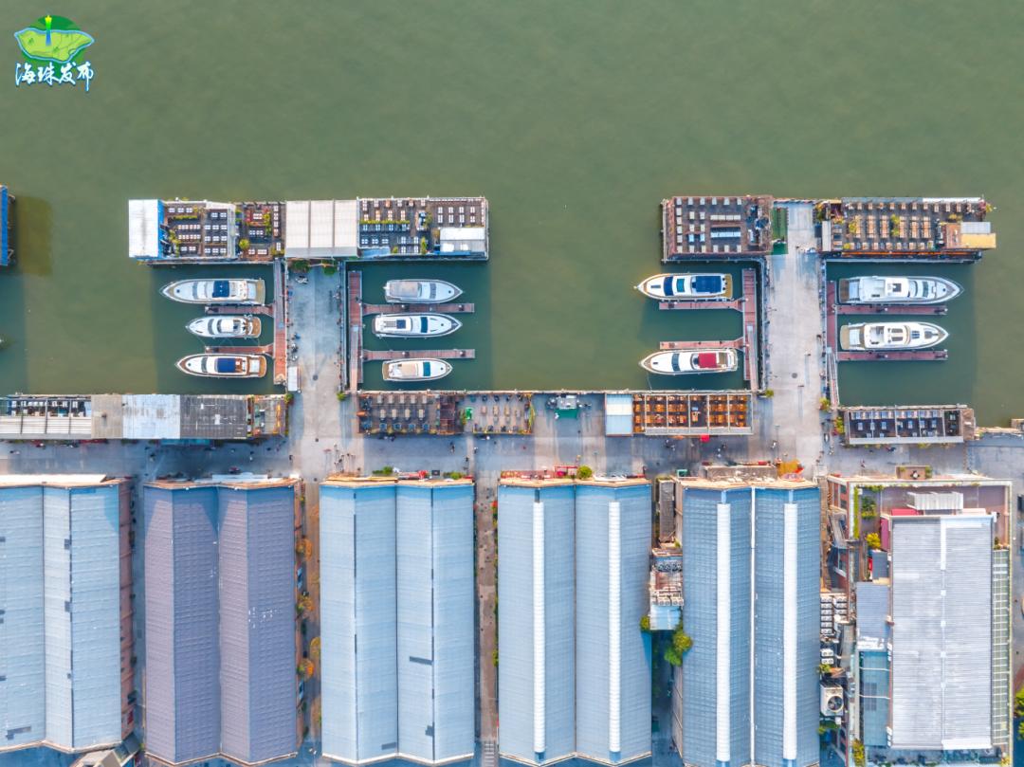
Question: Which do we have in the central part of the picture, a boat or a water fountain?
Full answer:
There is a boat in the central part of the picture.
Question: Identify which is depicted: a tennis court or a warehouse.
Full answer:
Of the two, only a warehouse appears.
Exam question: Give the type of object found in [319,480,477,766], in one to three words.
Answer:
warehouse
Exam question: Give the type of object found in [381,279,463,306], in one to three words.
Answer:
boat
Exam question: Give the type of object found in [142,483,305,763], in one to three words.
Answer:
warehouse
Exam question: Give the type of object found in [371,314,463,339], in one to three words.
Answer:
boat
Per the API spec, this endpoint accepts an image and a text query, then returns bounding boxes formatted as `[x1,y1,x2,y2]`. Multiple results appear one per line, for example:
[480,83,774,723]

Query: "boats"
[636,273,734,302]
[163,278,269,305]
[640,347,739,375]
[176,352,271,378]
[381,279,463,306]
[834,275,962,306]
[381,358,453,383]
[371,314,463,339]
[186,314,265,339]
[836,322,950,351]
